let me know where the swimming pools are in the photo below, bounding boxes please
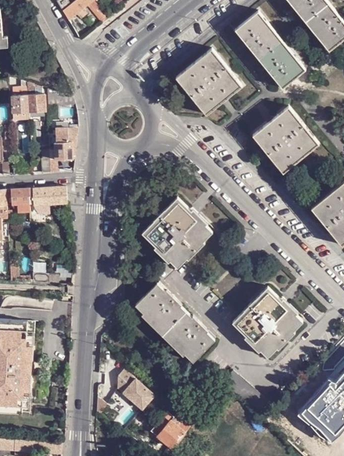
[114,392,138,426]
[0,104,10,124]
[21,133,30,155]
[59,105,76,120]
[22,256,31,272]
